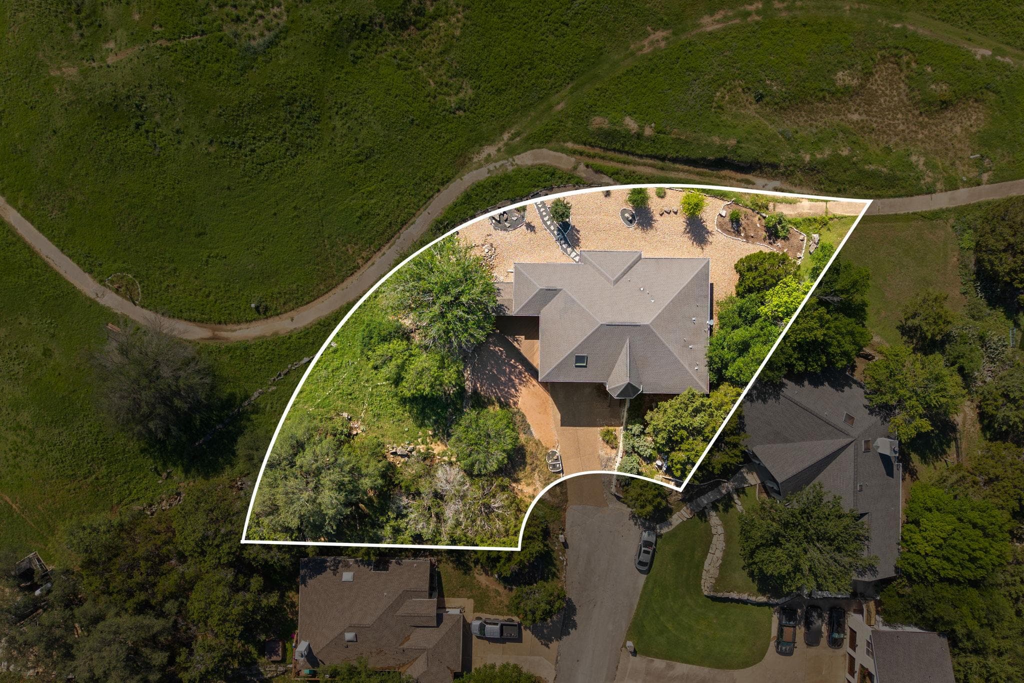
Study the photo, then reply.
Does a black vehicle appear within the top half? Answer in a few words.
No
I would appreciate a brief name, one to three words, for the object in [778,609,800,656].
car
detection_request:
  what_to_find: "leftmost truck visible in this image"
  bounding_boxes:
[470,619,519,643]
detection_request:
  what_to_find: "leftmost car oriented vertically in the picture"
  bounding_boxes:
[636,532,658,574]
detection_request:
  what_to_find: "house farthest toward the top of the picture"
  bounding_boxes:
[513,250,715,399]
